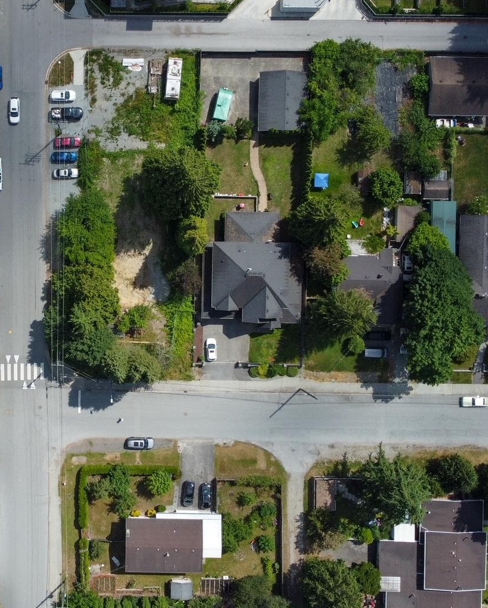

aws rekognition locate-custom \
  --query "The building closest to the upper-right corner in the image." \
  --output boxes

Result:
[424,56,488,117]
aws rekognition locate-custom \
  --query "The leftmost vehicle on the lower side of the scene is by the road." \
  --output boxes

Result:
[126,437,153,451]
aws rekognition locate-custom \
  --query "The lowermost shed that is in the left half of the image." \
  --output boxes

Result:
[170,578,192,600]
